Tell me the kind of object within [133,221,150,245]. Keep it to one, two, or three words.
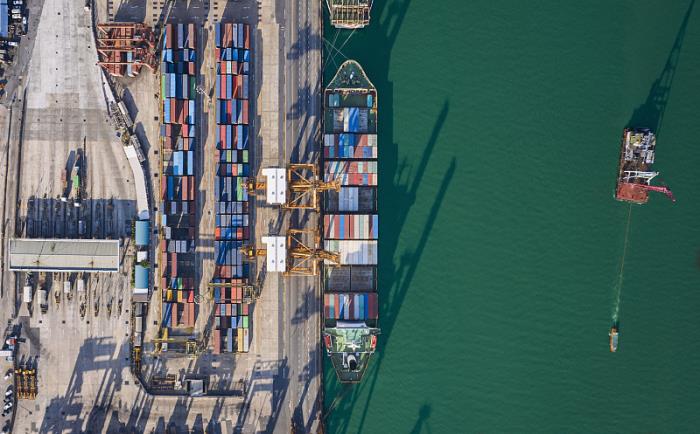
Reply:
shed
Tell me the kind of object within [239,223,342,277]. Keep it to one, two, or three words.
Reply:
container crane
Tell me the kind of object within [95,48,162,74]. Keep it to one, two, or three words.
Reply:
container crane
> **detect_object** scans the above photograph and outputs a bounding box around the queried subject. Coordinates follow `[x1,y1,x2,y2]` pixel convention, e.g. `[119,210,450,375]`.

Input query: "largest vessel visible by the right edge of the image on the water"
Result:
[615,128,673,204]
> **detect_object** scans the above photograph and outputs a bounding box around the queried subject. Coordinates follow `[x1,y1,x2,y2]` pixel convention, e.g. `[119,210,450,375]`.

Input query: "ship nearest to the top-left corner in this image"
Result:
[326,0,373,30]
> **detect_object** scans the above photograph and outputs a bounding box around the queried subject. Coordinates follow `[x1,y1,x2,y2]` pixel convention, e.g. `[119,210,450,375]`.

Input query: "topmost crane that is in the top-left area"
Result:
[95,23,162,51]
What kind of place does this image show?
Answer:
port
